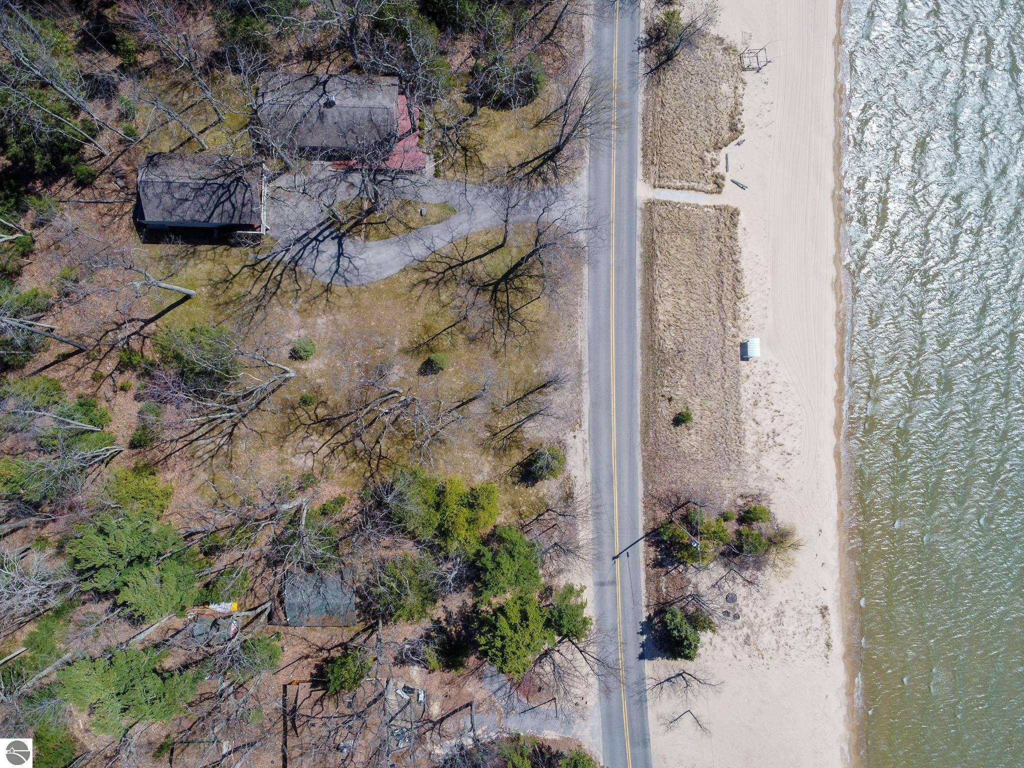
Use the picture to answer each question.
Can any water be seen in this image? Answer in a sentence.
Yes, some water is visible.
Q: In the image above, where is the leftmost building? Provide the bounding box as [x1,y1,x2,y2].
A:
[130,155,271,225]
